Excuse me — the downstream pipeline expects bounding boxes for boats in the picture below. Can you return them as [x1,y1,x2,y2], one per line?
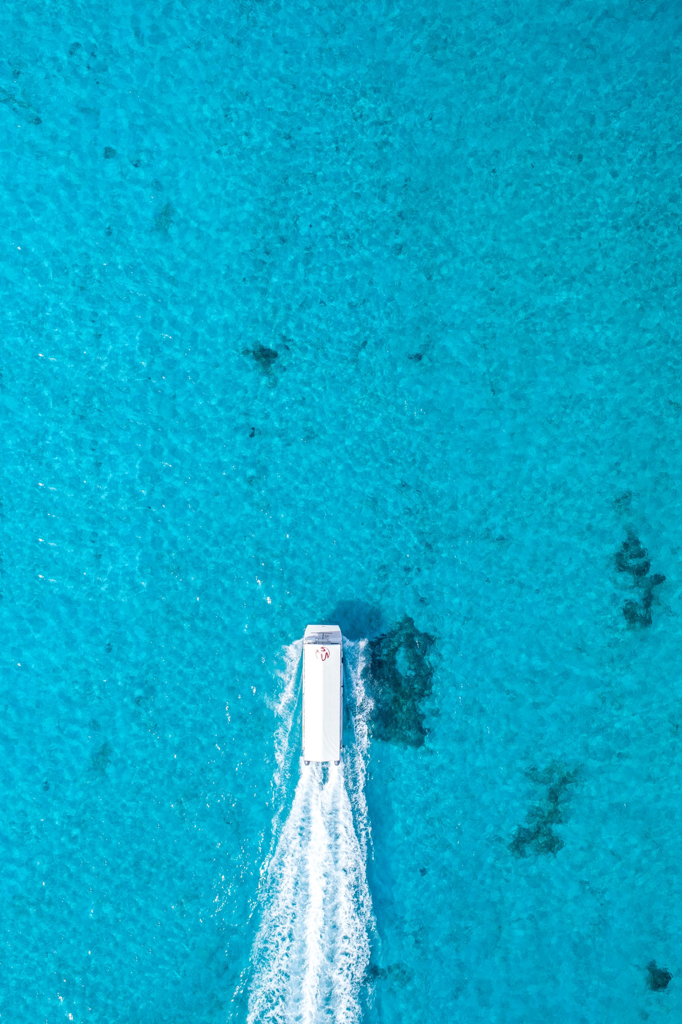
[303,624,343,766]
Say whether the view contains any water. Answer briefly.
Yes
